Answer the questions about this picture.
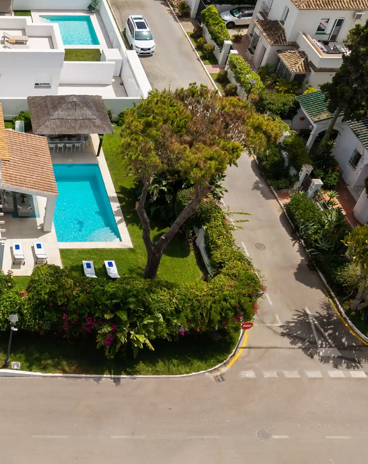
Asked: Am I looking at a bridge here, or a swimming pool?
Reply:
swimming pool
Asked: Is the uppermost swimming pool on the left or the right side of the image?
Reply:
left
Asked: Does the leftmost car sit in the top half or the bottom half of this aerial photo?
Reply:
top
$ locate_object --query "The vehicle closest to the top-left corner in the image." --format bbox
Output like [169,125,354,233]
[125,13,159,51]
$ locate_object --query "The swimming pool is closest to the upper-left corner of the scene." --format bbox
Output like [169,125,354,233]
[39,15,99,45]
